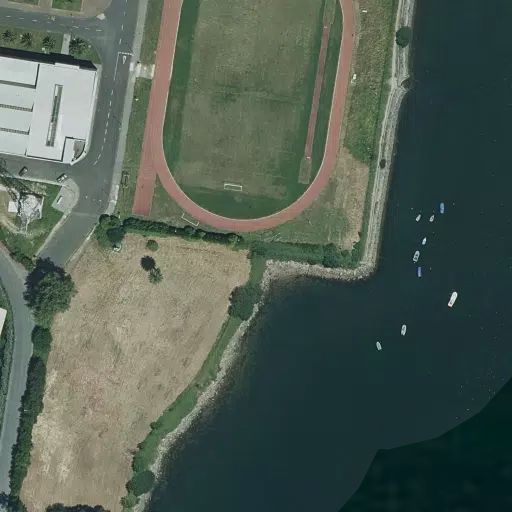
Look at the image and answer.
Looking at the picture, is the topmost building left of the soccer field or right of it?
on its left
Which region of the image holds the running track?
top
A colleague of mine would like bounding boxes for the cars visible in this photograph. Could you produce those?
[20,166,28,176]
[57,174,67,182]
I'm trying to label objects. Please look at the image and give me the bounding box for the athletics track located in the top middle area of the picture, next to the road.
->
[132,0,353,232]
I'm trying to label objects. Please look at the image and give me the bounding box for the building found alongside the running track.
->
[0,56,98,165]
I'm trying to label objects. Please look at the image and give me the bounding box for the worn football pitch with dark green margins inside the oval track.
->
[162,0,342,219]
